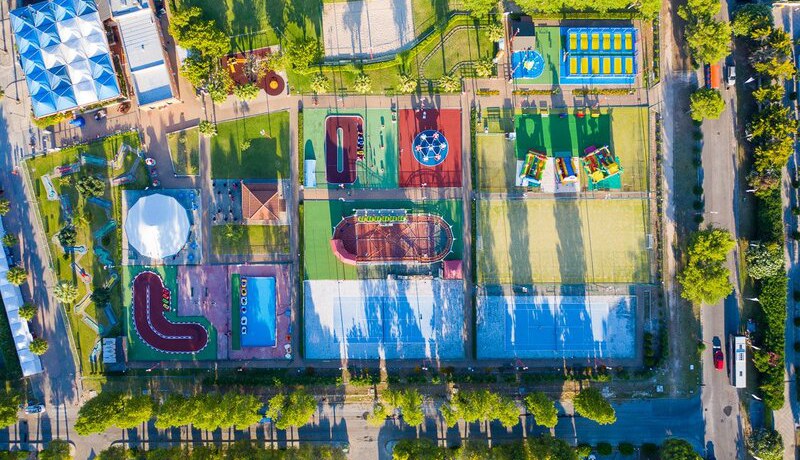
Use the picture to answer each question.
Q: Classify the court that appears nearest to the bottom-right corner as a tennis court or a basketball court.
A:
tennis court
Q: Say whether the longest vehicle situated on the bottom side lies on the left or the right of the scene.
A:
right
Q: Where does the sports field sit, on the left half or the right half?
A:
right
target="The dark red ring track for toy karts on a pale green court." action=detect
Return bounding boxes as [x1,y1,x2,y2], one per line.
[303,108,398,188]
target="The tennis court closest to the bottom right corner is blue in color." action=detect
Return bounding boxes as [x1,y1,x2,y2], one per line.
[477,295,637,358]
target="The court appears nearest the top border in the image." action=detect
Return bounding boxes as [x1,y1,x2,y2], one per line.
[323,0,413,59]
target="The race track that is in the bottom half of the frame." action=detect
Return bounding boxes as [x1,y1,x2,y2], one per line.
[127,266,216,360]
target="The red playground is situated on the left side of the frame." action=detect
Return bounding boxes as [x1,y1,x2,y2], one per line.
[228,48,283,94]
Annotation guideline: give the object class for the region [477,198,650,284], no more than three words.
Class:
sports field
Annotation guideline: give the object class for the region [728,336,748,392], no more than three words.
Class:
vehicle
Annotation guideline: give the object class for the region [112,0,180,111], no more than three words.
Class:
building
